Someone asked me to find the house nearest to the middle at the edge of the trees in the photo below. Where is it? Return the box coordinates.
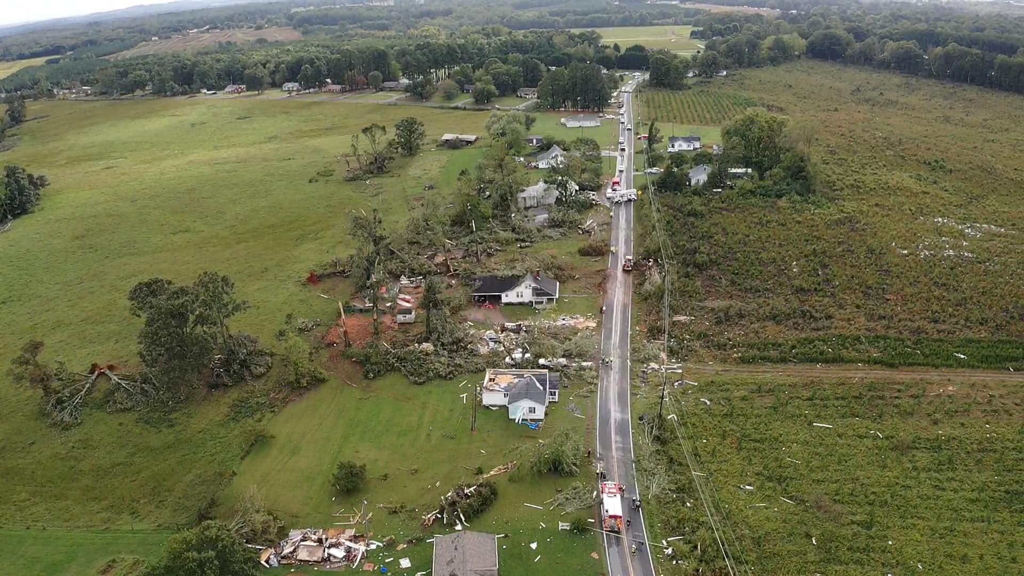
[471,269,559,307]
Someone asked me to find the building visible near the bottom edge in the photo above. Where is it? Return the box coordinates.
[427,533,498,576]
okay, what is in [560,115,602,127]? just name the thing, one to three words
house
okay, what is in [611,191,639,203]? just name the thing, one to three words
vehicle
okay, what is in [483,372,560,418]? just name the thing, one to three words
house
